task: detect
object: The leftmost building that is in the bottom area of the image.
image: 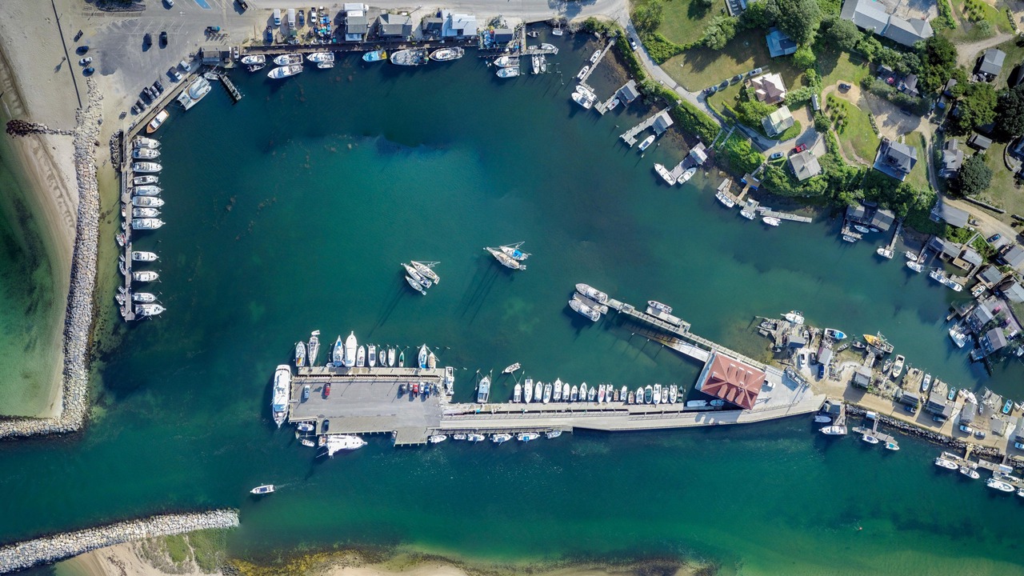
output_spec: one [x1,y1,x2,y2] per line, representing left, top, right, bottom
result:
[693,351,766,409]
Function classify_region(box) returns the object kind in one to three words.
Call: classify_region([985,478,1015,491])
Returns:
boat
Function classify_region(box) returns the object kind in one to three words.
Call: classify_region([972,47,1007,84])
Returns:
house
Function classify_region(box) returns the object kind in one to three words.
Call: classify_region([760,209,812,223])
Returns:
pier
